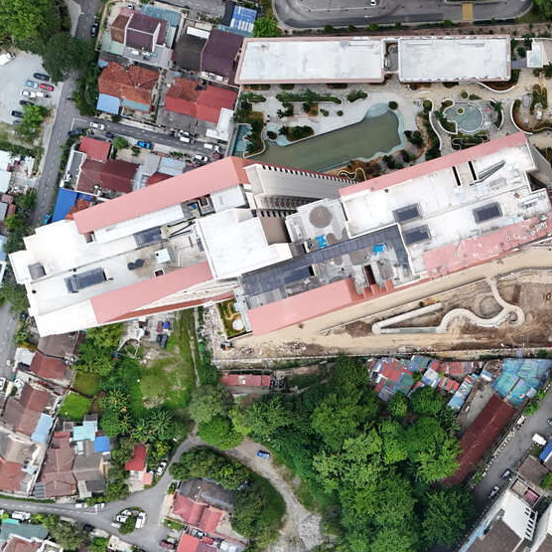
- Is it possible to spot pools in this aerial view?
Yes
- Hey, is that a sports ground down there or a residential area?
residential area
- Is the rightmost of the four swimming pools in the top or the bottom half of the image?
top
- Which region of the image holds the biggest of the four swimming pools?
top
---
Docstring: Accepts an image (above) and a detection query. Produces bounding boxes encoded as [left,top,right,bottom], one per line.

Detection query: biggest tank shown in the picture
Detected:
[309,205,335,227]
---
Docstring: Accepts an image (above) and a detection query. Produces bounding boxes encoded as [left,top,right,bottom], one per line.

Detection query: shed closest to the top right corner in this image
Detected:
[528,38,545,70]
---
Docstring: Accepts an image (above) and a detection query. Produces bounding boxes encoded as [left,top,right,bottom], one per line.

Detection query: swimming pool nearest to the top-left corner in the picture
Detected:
[231,123,252,157]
